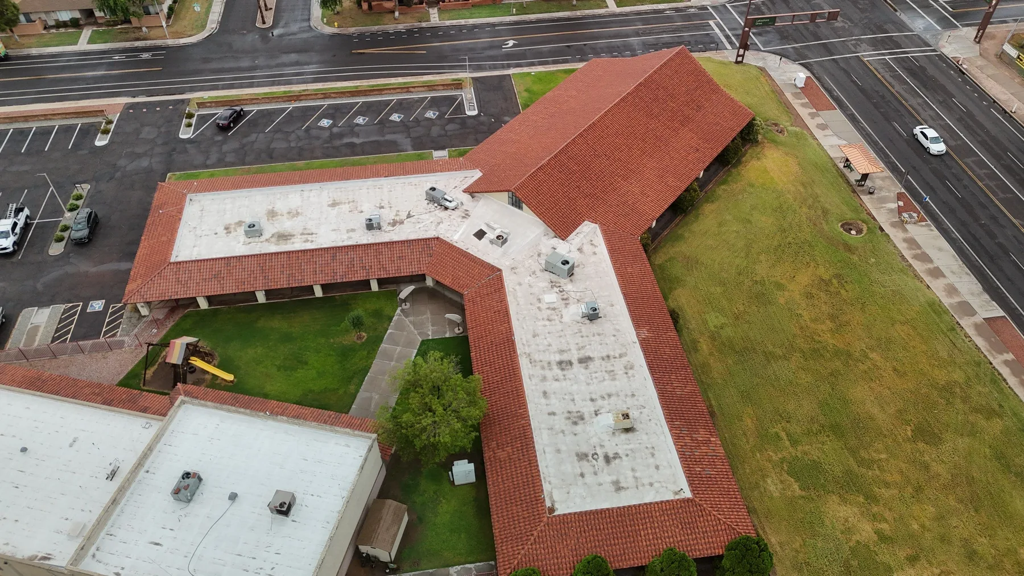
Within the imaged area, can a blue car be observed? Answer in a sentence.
No, I can't see a single blue car in this photo.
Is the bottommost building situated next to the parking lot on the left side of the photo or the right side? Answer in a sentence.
The bottommost building situated next to the parking lot appears in the left half of the scene.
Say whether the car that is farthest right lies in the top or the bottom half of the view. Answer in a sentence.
It is in the top half that the car that is farthest right appears.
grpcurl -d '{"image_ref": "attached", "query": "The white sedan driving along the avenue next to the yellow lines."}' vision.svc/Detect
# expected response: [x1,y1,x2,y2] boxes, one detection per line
[915,126,949,153]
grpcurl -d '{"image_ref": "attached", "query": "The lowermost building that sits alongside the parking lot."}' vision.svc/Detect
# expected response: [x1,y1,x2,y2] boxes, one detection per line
[0,360,402,576]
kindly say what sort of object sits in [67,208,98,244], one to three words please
car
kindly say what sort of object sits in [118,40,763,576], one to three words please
church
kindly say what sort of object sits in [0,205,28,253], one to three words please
truck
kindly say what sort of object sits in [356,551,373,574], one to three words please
work vehicle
